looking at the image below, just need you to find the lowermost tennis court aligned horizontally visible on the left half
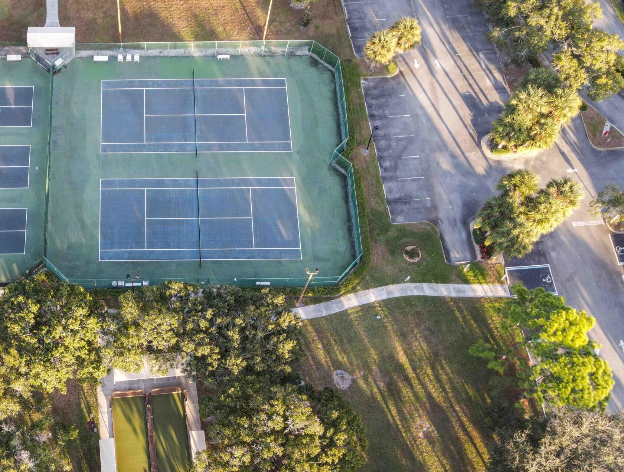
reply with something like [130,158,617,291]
[99,169,301,268]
